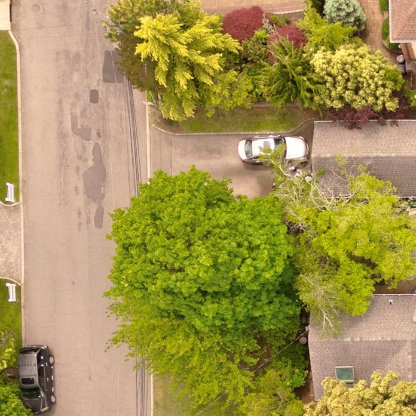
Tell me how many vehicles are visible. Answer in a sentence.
The photo contains 2 vehicles.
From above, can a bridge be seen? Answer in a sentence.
No, no bridge is visible in the view.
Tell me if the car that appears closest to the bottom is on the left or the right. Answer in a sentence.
You can find the car that appears closest to the bottom on the left side of the picture.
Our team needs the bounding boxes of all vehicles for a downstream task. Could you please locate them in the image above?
[238,134,310,166]
[19,345,57,412]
